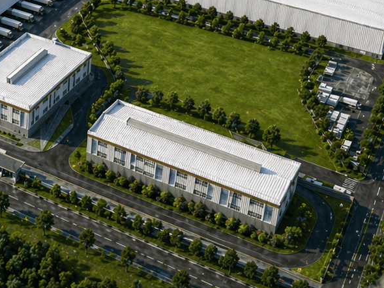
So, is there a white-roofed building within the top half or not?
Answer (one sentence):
Yes, a white-roofed building appears within the top half.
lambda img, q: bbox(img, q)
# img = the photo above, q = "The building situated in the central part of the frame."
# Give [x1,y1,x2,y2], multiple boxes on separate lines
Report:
[86,97,303,234]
